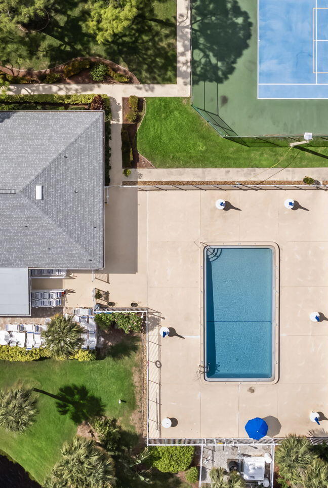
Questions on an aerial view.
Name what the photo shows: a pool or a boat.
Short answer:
pool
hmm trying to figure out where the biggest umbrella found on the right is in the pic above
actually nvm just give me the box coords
[245,415,267,438]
